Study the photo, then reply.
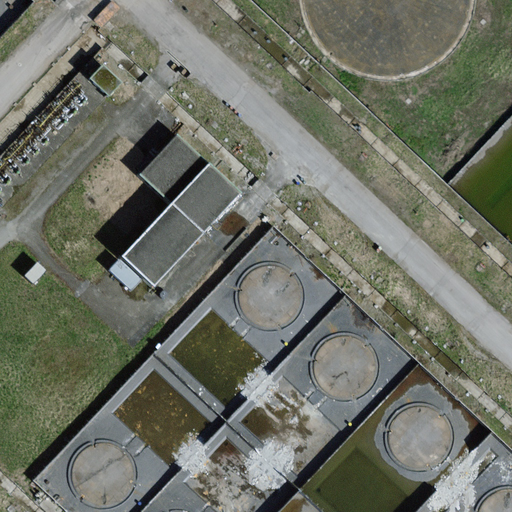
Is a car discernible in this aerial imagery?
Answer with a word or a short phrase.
No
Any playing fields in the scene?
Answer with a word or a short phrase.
No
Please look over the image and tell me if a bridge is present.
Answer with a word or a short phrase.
No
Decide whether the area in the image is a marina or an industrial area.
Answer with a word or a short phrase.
industrial area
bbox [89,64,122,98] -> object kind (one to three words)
shed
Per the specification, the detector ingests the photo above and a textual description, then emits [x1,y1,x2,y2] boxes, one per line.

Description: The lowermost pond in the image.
[446,112,512,242]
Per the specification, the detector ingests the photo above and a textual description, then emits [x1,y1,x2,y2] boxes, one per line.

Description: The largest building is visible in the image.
[120,134,243,286]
